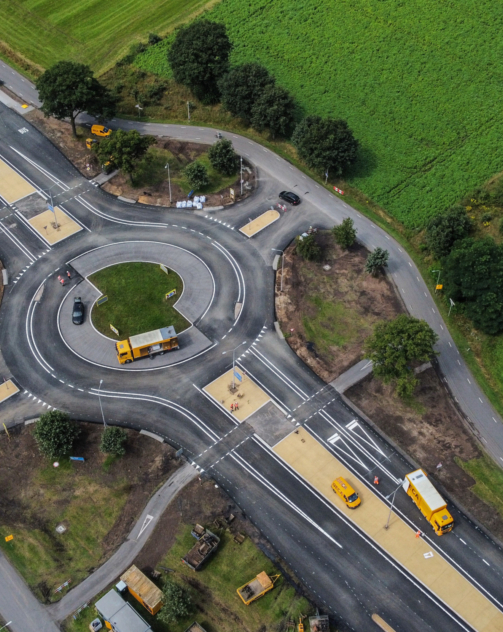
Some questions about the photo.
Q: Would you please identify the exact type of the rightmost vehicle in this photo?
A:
truck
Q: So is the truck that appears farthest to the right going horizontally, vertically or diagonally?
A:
diagonally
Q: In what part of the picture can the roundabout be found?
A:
left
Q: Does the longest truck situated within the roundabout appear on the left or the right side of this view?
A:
left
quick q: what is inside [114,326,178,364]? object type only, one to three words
truck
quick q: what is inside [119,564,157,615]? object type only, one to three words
shed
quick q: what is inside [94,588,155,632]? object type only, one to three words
building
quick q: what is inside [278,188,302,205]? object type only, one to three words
car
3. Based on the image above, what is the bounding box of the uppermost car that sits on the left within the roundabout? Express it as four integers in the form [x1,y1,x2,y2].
[70,297,85,322]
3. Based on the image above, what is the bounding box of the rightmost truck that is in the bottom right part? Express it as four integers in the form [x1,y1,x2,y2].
[396,466,459,536]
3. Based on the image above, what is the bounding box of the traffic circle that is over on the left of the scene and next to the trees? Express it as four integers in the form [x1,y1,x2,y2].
[0,189,269,444]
